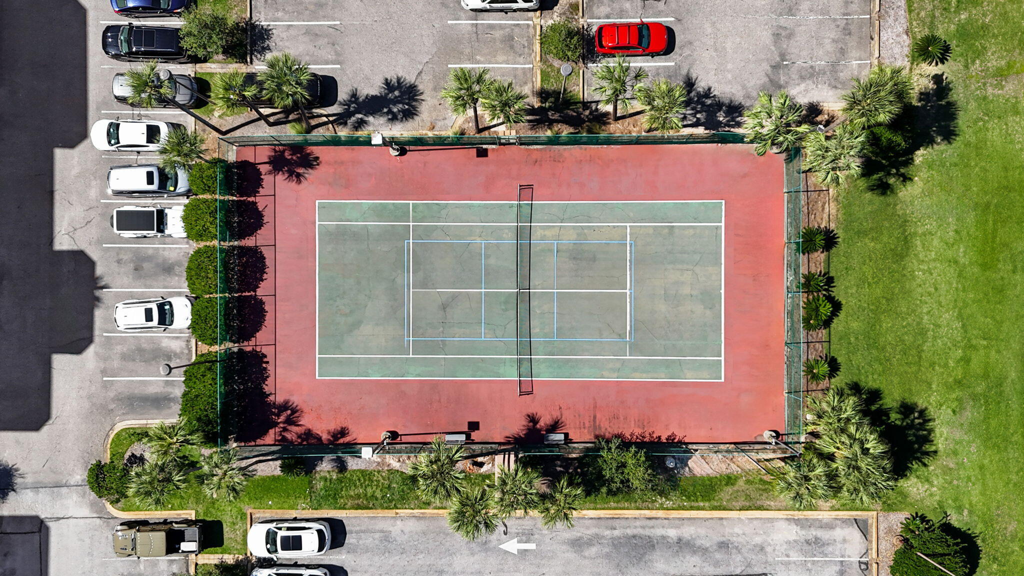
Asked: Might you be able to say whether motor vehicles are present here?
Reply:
Yes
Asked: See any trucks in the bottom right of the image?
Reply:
No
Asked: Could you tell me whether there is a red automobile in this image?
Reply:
Yes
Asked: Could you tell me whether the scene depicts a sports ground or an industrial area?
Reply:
sports ground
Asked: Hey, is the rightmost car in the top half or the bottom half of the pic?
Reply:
top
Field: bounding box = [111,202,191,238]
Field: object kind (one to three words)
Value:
car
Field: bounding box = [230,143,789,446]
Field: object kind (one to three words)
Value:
tennis court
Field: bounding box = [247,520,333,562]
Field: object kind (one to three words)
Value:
car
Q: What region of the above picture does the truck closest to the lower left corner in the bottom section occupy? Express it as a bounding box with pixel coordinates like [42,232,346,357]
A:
[113,521,206,561]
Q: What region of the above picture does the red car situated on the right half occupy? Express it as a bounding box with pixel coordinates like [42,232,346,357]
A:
[593,15,669,55]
